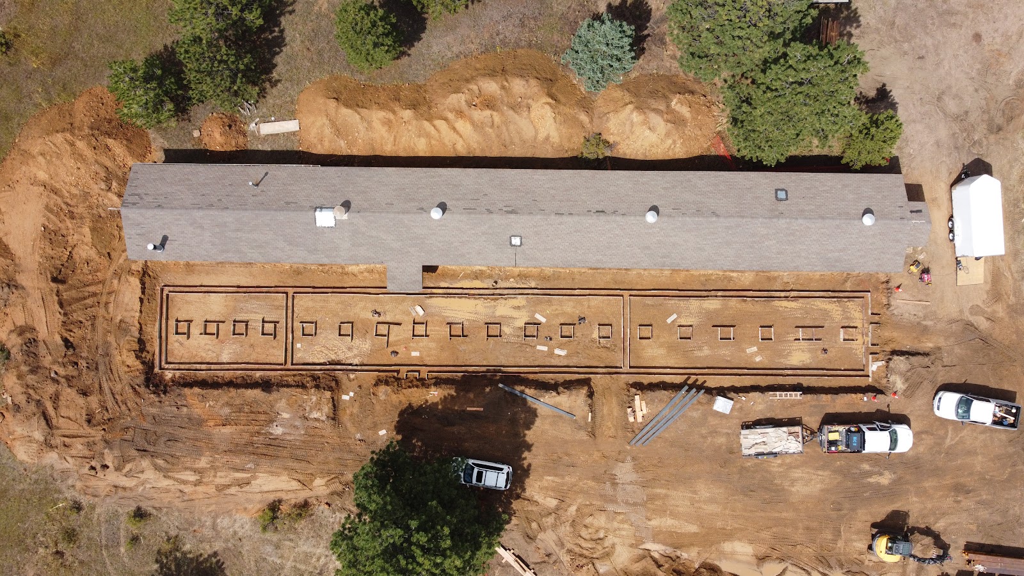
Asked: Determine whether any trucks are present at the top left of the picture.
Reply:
No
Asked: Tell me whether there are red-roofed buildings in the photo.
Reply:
No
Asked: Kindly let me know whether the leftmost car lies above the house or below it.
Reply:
below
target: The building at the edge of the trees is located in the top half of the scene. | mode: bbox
[109,162,934,293]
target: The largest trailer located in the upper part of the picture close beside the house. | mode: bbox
[945,166,1004,285]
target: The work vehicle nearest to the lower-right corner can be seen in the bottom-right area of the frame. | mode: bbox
[864,528,953,565]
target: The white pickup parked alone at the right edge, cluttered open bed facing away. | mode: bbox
[928,391,1020,434]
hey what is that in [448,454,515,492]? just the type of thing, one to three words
car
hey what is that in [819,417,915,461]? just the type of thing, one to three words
truck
